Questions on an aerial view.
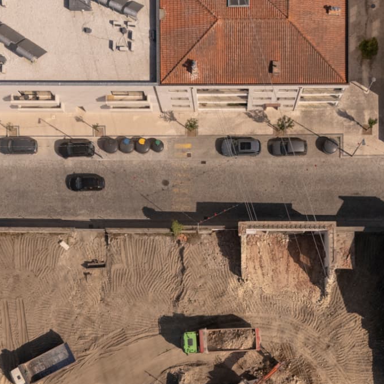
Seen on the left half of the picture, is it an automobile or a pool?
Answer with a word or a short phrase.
automobile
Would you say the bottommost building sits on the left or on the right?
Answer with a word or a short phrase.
right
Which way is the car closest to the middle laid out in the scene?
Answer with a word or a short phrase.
horizontally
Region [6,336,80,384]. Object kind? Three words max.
truck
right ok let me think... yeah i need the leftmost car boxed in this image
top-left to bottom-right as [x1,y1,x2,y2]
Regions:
[0,137,39,156]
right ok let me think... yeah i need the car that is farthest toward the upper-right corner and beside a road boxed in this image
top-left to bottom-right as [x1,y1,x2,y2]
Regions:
[272,138,307,157]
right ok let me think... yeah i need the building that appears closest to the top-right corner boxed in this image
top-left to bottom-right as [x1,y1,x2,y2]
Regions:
[159,0,349,115]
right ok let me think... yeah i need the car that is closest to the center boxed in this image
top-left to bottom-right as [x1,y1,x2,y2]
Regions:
[221,137,263,157]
